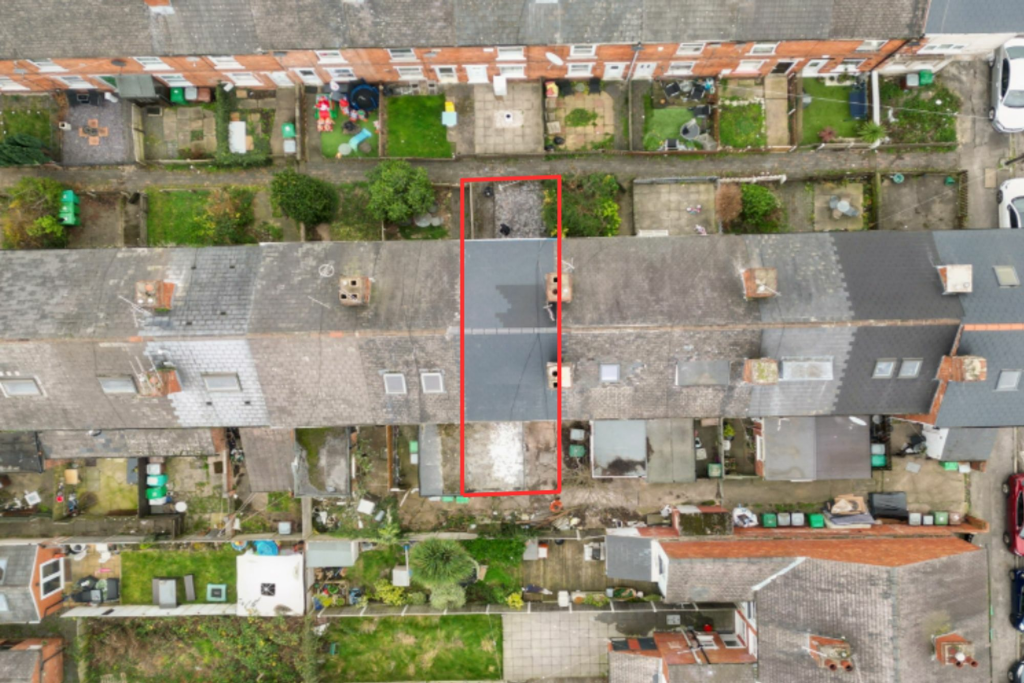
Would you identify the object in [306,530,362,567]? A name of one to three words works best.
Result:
shed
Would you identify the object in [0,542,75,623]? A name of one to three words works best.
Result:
house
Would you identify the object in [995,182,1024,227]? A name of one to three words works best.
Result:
car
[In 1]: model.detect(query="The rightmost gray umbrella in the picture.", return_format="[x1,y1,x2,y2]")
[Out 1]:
[796,96,810,111]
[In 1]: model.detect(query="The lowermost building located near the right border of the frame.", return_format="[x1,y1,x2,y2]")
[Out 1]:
[652,535,989,683]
